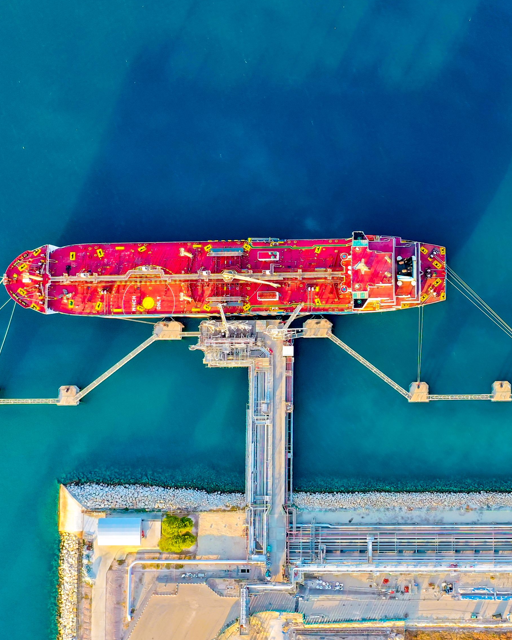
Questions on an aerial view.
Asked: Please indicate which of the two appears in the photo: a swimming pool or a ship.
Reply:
ship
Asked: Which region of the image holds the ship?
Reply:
center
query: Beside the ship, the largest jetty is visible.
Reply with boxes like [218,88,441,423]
[199,319,285,418]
